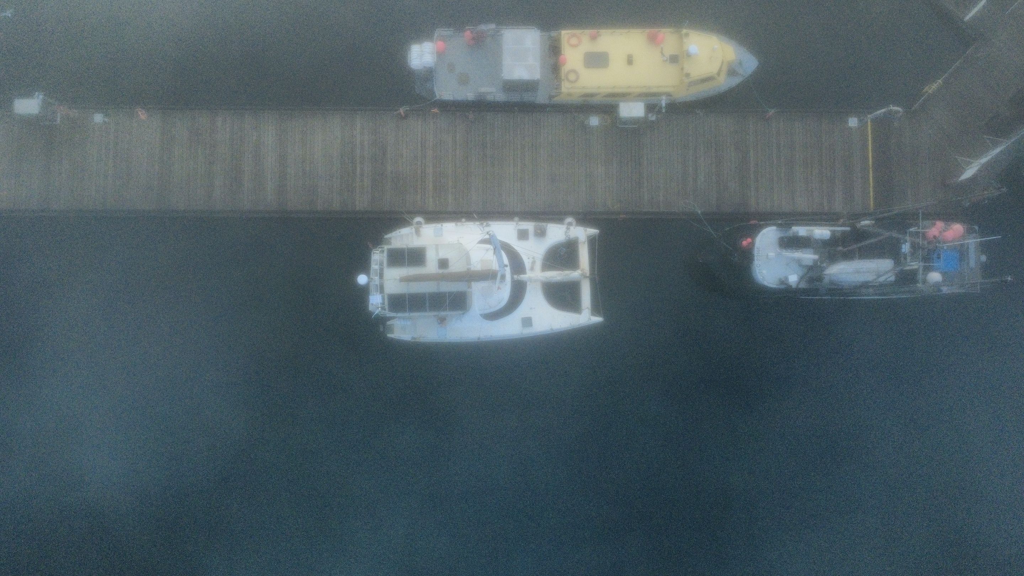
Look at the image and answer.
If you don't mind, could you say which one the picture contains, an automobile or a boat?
boat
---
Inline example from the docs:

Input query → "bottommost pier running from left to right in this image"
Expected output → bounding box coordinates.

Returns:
[0,105,967,222]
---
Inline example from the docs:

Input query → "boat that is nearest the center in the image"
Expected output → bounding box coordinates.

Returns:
[357,221,603,342]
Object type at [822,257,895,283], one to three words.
boat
